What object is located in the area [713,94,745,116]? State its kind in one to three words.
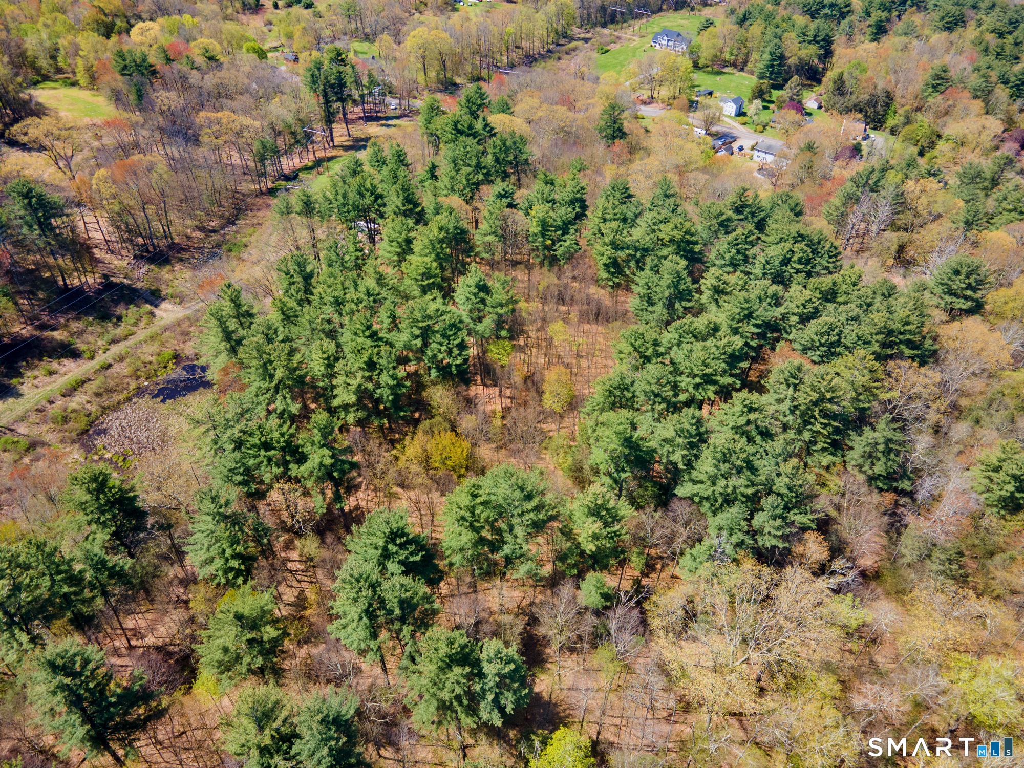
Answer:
house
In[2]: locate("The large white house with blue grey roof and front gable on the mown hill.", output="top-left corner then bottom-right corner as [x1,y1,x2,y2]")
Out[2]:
[648,28,696,51]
